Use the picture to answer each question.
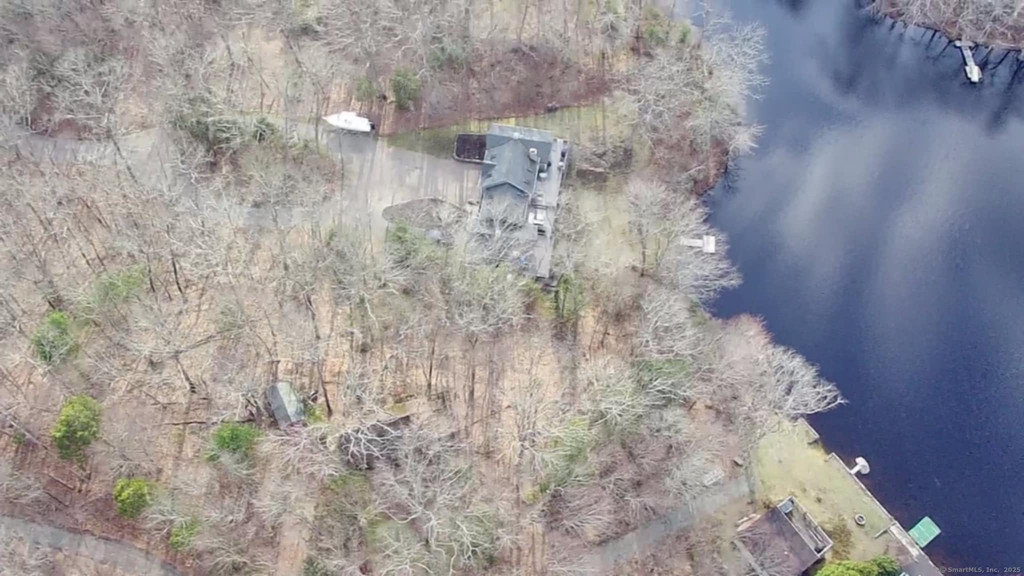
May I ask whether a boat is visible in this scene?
Yes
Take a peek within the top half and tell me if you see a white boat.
Yes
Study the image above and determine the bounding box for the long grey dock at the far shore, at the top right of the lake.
[956,40,983,80]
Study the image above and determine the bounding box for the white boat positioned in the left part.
[323,110,374,136]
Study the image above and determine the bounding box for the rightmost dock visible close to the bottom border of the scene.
[907,516,942,548]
